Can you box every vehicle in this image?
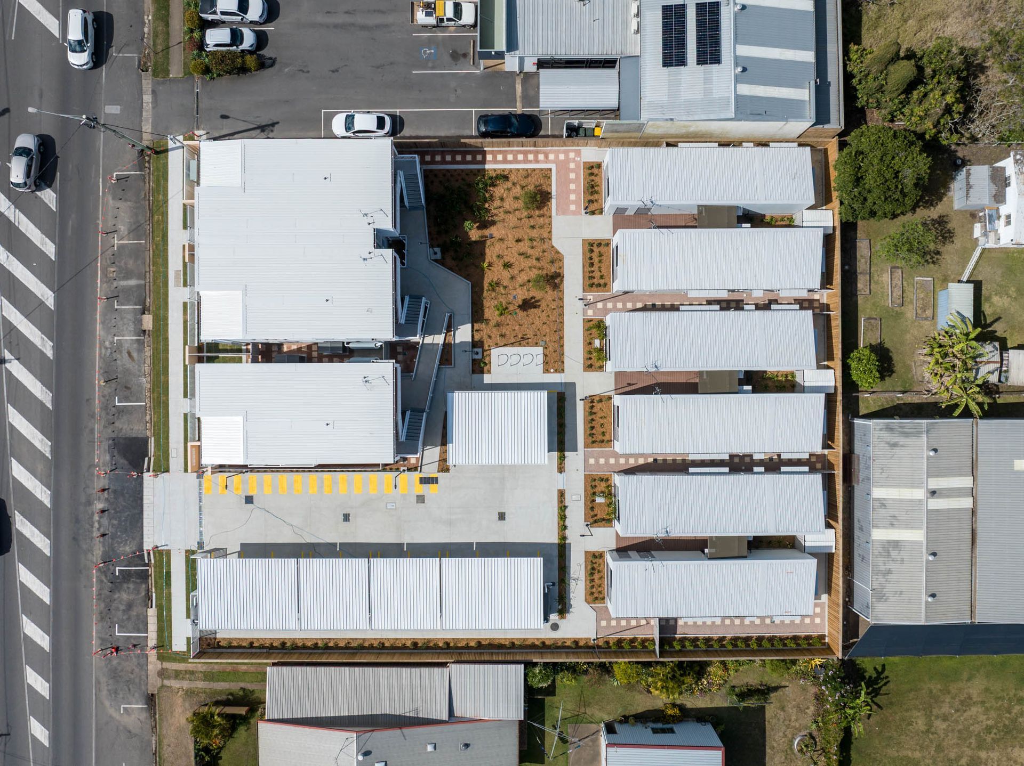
[477,110,536,138]
[203,25,259,57]
[10,133,45,190]
[410,0,478,27]
[199,0,269,25]
[66,7,100,69]
[333,109,392,140]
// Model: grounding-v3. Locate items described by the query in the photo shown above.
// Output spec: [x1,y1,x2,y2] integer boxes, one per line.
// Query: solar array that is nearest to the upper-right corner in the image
[696,0,720,65]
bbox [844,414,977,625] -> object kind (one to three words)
warehouse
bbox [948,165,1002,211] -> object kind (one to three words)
shed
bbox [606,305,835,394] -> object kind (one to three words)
house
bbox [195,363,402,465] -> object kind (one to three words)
building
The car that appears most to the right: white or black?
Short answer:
black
